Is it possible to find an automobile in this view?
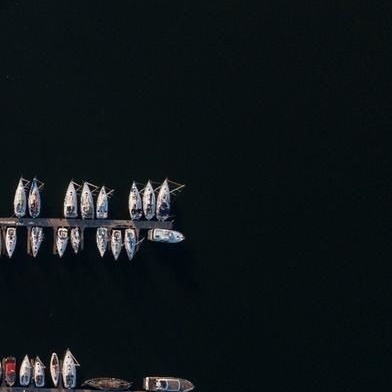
No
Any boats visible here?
Yes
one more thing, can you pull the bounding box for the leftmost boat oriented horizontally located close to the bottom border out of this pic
[82,378,135,390]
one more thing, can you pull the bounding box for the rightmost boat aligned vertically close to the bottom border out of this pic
[62,348,81,389]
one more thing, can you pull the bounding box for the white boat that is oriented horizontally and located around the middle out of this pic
[145,229,185,243]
